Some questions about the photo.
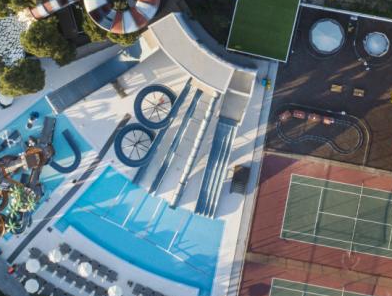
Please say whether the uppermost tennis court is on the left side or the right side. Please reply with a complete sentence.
The uppermost tennis court appears in the right half of the scene.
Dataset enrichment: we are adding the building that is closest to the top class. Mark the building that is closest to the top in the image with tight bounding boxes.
[148,12,236,94]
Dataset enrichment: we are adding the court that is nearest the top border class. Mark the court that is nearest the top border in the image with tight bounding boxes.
[247,154,392,276]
